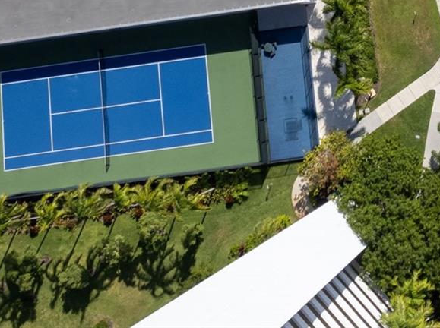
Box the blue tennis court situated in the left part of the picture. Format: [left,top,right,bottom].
[0,10,275,197]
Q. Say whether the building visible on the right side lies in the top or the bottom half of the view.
bottom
